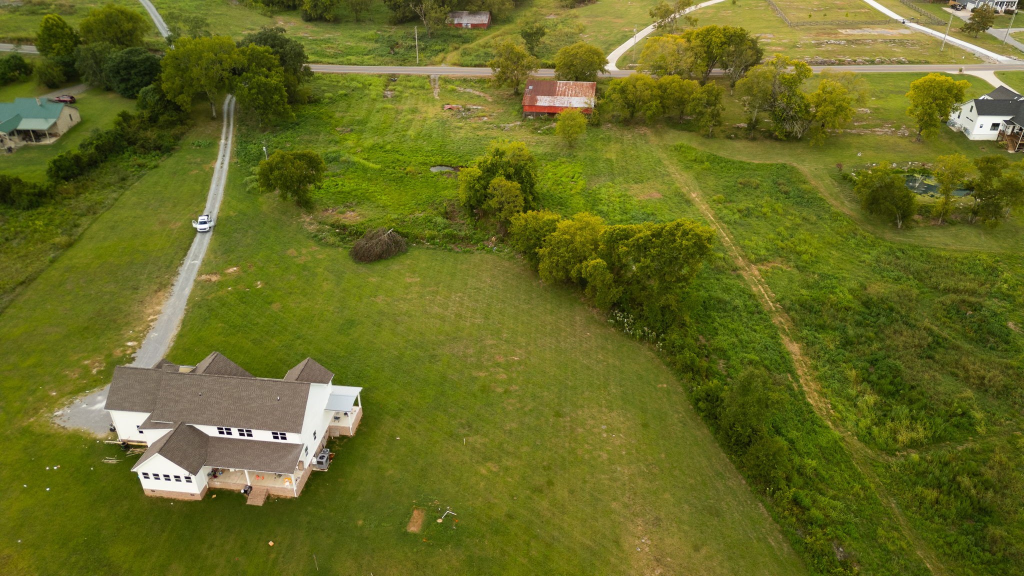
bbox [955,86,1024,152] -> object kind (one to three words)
house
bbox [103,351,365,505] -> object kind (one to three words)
house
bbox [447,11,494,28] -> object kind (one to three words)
shed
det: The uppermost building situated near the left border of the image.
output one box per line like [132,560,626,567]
[0,97,80,146]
